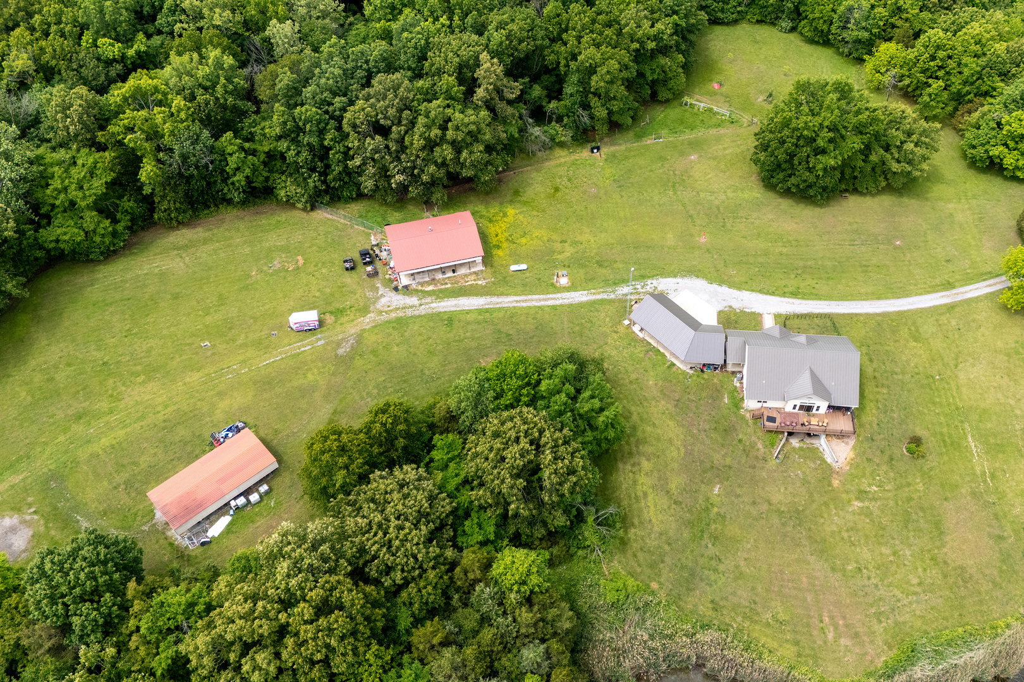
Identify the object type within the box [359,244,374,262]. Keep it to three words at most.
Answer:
vehicle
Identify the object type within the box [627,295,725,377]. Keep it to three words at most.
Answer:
building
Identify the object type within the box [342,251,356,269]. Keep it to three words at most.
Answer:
vehicle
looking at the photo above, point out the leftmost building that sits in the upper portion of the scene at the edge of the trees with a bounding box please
[384,212,484,286]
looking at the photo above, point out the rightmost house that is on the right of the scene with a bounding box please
[721,320,862,419]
